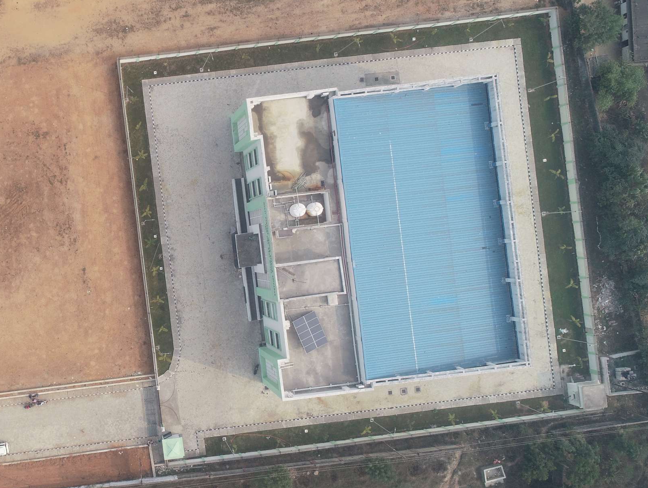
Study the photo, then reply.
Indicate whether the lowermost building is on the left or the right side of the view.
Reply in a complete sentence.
It is on the left.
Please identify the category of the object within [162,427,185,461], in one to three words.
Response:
building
